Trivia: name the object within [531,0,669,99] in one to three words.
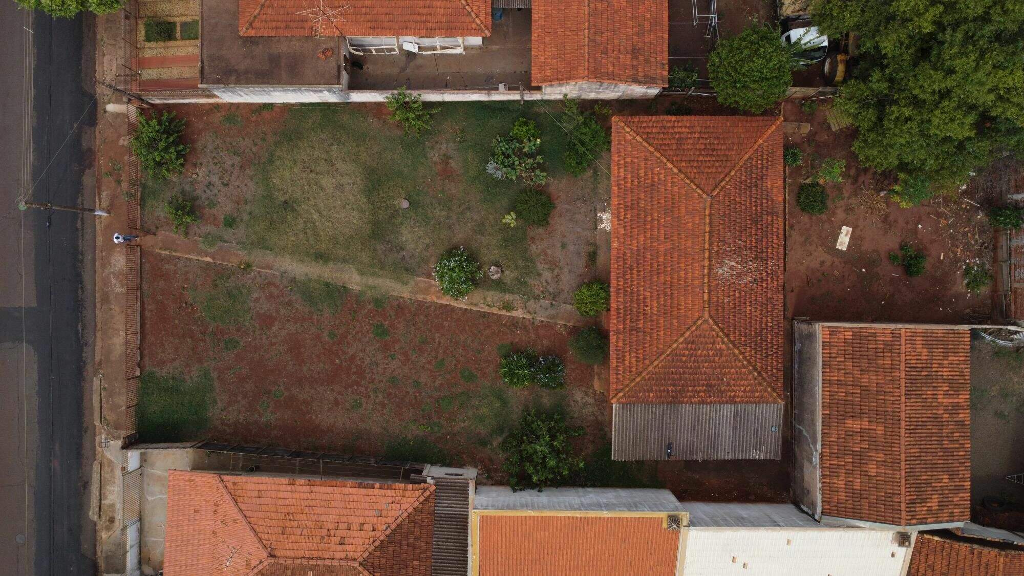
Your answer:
shed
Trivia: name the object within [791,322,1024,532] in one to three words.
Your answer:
house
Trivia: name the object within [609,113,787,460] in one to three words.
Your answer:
house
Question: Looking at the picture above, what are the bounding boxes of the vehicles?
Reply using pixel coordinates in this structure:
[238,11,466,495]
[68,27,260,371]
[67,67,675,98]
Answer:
[762,0,825,72]
[821,30,877,87]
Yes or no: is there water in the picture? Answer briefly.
No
